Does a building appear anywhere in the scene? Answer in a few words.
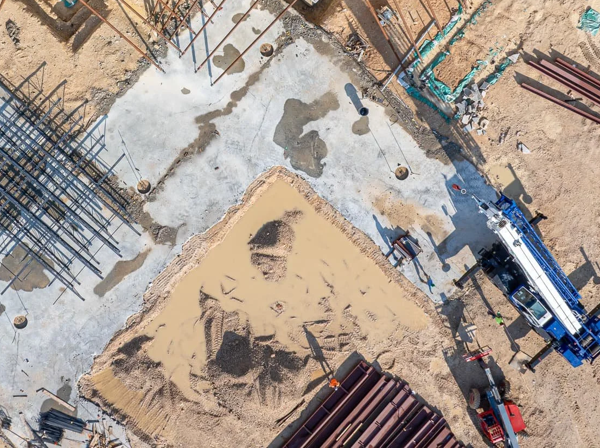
No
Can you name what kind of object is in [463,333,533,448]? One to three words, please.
work vehicle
